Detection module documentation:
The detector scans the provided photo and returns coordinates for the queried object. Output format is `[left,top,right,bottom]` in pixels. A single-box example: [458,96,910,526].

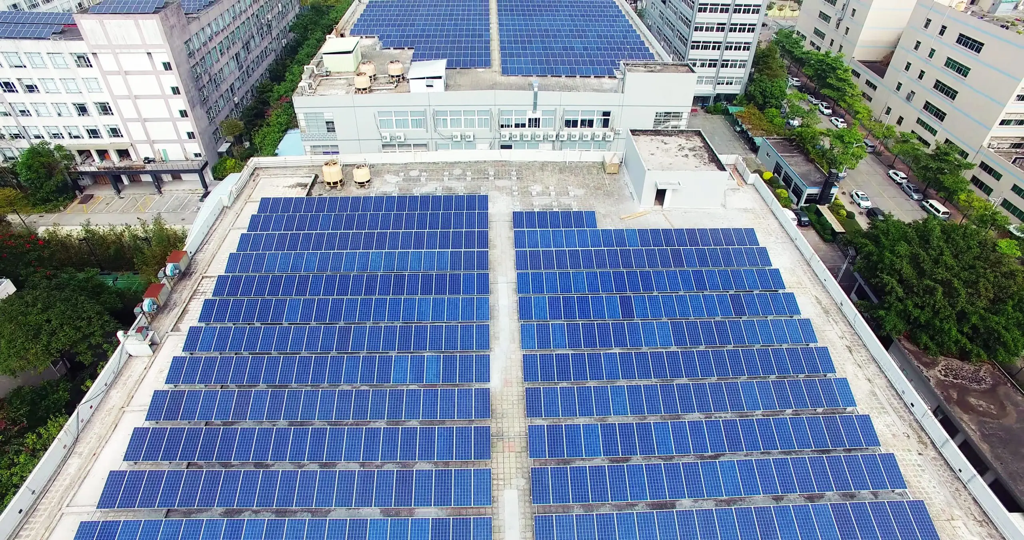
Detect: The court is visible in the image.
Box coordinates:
[18,269,156,312]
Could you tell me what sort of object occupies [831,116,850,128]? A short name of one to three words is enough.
vehicle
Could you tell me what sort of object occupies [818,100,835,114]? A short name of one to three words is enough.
car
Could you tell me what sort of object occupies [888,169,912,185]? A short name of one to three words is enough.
car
